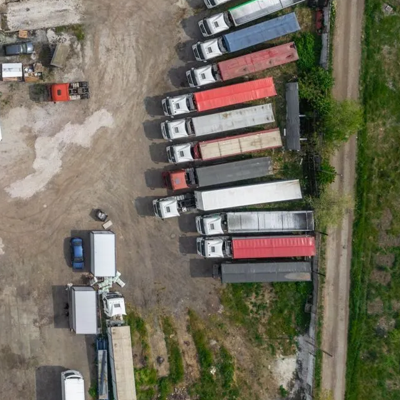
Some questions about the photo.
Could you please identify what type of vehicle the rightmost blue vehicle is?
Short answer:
truck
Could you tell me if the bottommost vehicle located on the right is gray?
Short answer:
Yes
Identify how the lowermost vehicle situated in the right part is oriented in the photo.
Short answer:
from left to right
